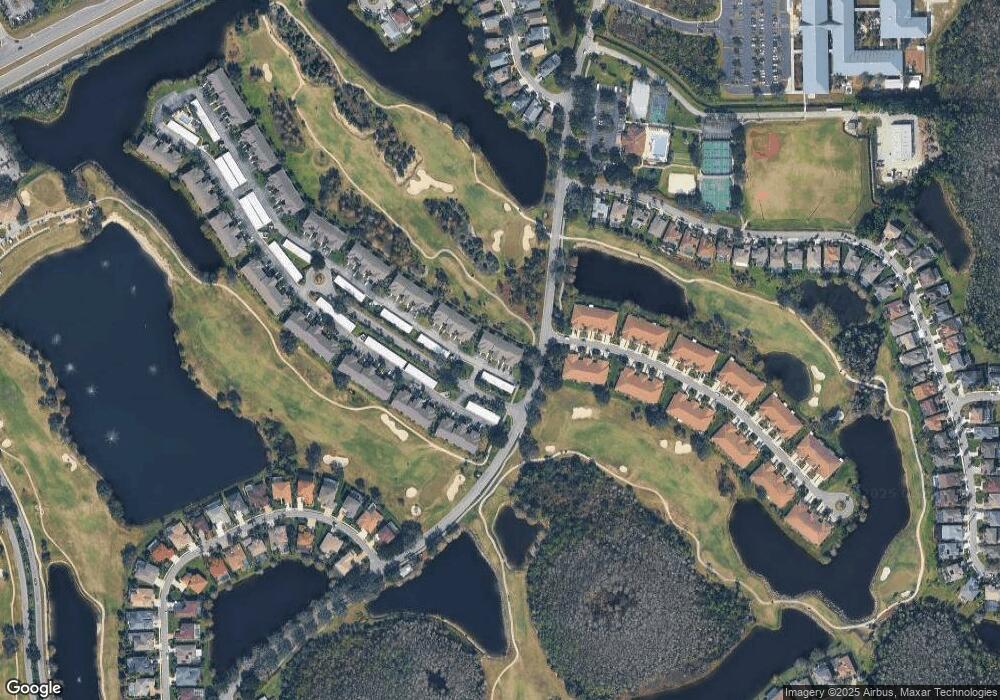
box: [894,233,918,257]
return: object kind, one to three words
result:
house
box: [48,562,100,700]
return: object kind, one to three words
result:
pond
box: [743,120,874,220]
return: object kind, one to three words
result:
sports field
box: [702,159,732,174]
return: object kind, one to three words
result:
tennis court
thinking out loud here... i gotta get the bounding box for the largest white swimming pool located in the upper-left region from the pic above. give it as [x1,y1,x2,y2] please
[172,110,195,131]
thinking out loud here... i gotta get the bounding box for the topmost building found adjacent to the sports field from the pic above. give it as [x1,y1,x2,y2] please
[795,0,929,94]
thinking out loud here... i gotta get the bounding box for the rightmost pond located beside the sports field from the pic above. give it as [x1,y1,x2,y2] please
[913,184,971,270]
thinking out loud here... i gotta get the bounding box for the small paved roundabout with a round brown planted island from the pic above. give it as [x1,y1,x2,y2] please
[304,267,336,298]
